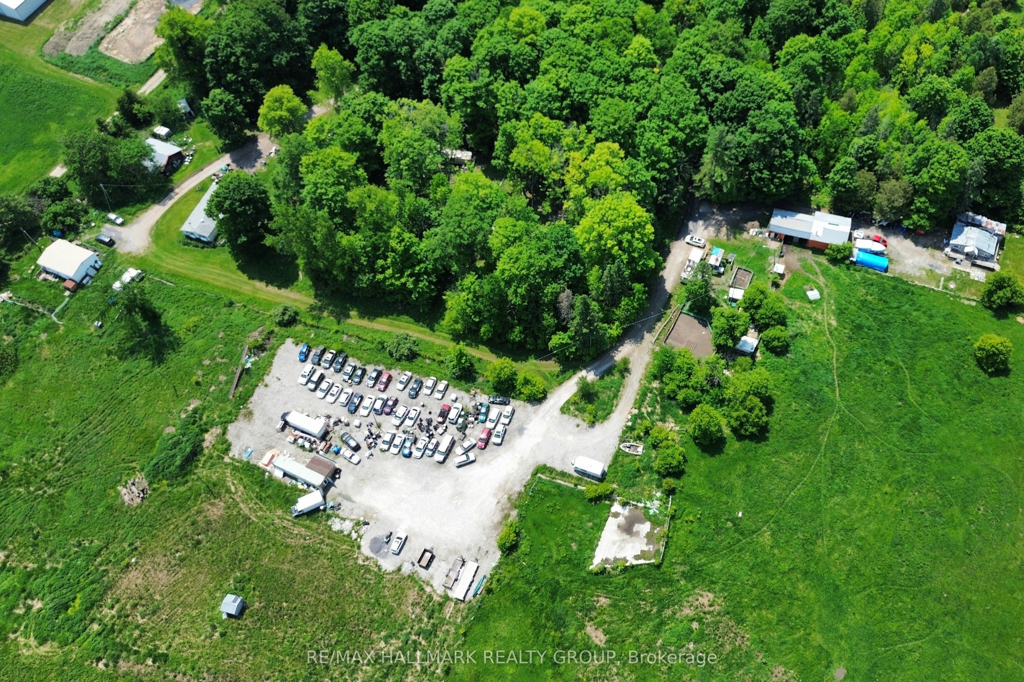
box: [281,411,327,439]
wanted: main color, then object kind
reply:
white truck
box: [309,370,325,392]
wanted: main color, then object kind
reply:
white car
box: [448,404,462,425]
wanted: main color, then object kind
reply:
white car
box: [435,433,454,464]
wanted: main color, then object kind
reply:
white vehicle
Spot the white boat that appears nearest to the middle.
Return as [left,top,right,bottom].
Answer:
[620,443,645,455]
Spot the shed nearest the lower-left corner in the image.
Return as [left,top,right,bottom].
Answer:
[219,593,246,615]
